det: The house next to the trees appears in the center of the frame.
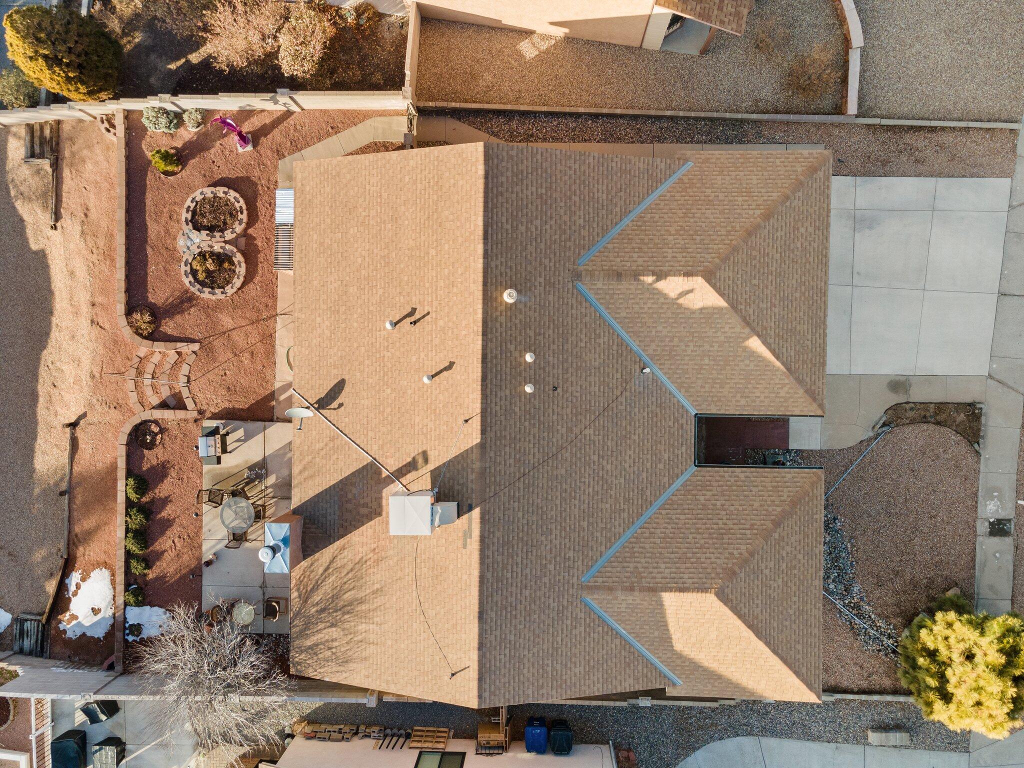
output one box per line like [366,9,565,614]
[263,140,835,709]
